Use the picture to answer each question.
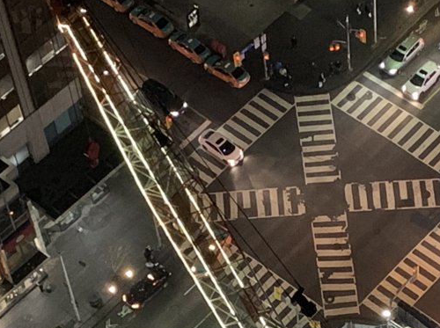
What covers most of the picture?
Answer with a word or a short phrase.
paved ground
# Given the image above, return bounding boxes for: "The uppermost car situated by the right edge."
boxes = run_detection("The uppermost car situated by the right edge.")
[380,32,426,76]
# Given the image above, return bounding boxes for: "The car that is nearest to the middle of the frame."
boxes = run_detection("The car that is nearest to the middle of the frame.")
[198,127,244,170]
